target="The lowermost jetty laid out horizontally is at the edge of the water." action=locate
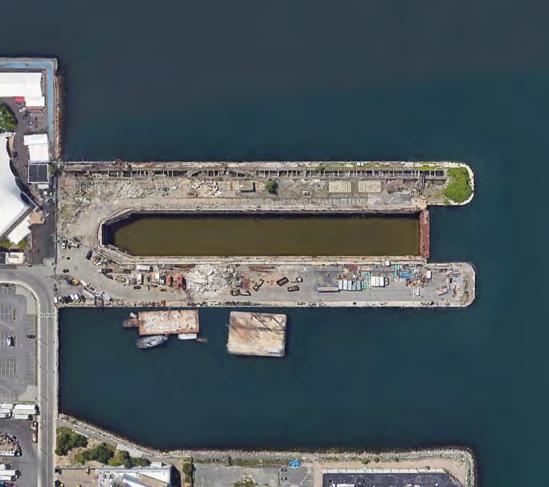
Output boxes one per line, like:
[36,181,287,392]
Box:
[60,246,476,308]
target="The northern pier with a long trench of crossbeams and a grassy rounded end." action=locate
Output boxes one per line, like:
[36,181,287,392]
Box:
[58,161,473,220]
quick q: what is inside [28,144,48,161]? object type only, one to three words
shed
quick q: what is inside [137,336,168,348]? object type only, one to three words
boat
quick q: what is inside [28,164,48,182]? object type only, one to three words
building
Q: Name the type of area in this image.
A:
port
